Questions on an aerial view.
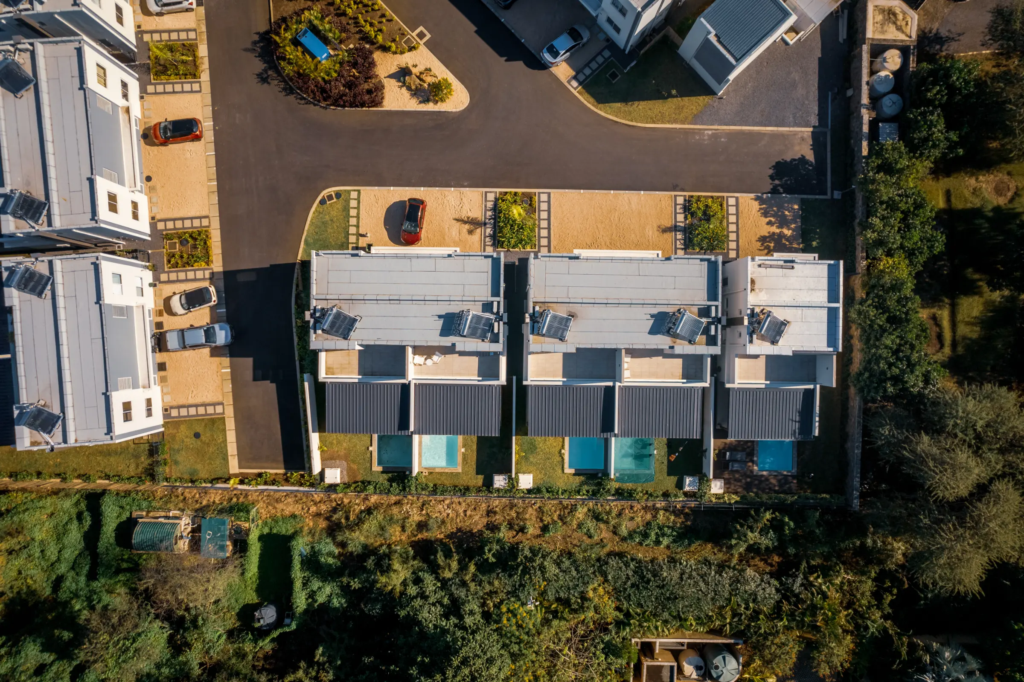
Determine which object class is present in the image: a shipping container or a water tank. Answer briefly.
water tank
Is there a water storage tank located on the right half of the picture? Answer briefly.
Yes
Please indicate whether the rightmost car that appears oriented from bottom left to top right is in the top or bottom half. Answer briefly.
top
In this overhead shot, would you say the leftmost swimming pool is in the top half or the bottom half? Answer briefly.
bottom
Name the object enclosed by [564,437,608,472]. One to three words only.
swimming pool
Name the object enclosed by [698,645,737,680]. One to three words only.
water tank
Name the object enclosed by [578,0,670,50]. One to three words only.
house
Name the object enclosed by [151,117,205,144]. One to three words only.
car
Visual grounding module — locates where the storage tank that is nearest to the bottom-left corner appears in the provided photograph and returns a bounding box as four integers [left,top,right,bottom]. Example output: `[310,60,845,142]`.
[129,515,186,553]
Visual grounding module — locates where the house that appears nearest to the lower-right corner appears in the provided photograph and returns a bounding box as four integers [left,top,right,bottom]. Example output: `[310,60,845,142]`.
[716,253,848,441]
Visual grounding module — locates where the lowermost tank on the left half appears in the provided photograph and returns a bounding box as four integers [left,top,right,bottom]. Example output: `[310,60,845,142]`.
[256,597,286,624]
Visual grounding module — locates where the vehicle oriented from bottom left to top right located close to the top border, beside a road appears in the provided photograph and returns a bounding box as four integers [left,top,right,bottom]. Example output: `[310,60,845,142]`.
[538,21,593,71]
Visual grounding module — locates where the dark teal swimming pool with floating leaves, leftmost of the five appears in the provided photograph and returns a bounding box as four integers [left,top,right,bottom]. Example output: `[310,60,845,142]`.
[368,423,412,470]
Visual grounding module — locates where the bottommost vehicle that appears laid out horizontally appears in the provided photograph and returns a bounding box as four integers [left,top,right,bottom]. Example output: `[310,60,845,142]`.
[166,322,234,351]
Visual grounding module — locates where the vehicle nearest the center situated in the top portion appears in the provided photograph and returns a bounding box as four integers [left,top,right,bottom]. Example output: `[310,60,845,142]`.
[398,195,428,247]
